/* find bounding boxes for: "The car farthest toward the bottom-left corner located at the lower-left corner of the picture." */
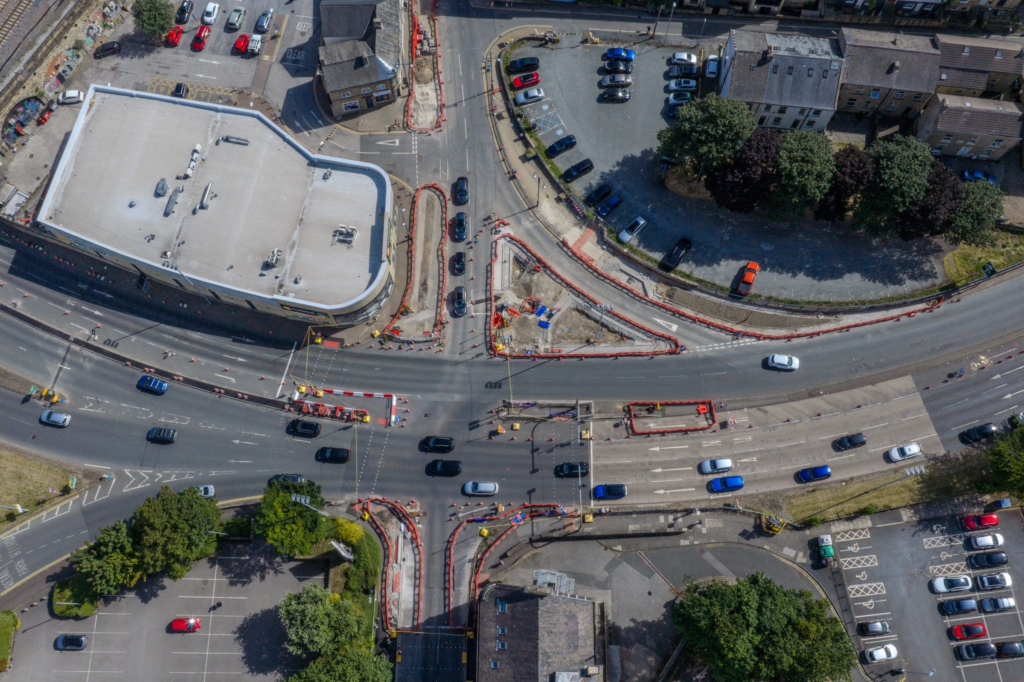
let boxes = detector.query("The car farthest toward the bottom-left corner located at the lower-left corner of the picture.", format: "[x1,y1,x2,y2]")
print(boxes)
[53,634,89,652]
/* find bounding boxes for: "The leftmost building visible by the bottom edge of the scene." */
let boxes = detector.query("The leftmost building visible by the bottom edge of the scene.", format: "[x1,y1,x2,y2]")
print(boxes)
[476,584,608,682]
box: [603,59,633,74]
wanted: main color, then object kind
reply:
black car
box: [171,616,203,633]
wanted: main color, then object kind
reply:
red car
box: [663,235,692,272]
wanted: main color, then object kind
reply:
black truck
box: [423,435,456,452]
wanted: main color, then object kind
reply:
black car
